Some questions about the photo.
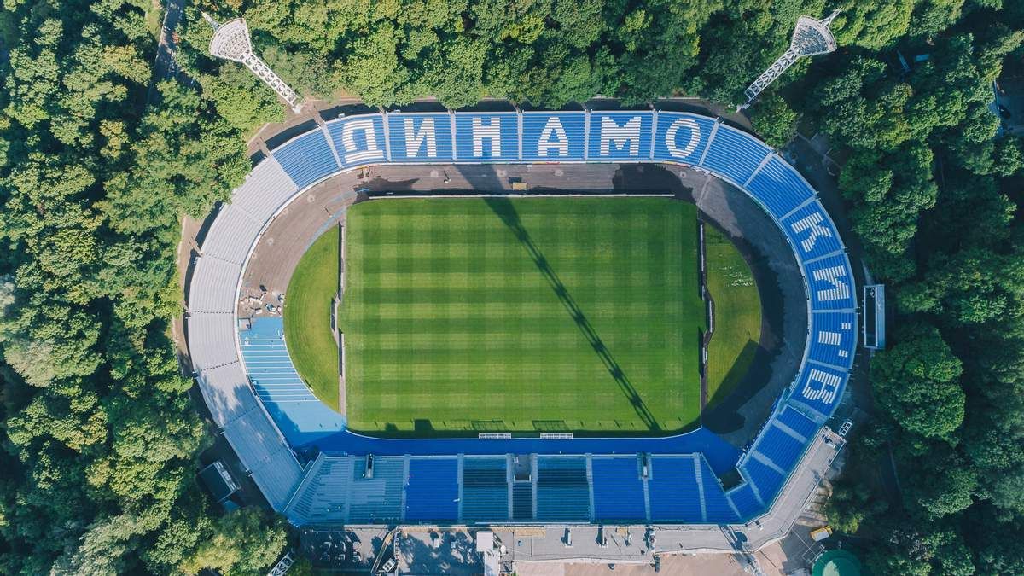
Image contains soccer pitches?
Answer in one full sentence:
Yes, a soccer pitch can be made out from above.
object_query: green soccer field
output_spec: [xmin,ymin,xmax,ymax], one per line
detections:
[284,197,761,438]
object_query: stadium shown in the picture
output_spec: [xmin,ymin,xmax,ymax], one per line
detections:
[170,94,869,528]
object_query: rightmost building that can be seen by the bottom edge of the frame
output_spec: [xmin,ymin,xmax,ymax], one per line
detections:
[809,546,861,576]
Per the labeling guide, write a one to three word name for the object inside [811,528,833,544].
vehicle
